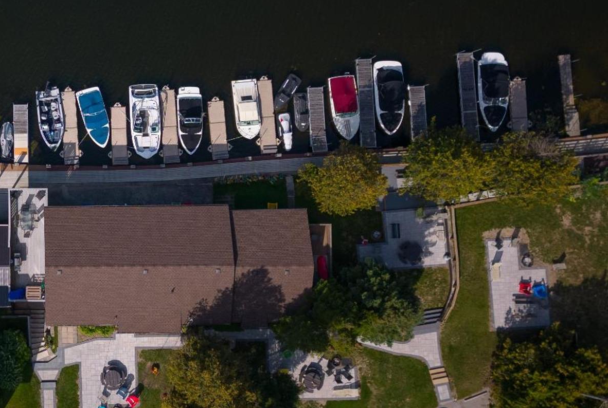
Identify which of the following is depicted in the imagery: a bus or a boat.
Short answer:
boat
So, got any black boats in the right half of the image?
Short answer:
Yes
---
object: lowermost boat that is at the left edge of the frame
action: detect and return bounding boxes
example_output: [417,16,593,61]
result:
[1,123,13,158]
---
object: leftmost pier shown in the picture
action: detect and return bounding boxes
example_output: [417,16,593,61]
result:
[12,103,29,162]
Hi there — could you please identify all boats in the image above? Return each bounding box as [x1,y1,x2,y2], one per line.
[477,52,509,133]
[1,123,13,158]
[172,87,203,155]
[75,87,110,148]
[232,78,260,140]
[294,93,309,132]
[129,83,161,159]
[373,60,404,135]
[35,84,64,154]
[278,114,292,151]
[275,72,298,110]
[329,70,361,140]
